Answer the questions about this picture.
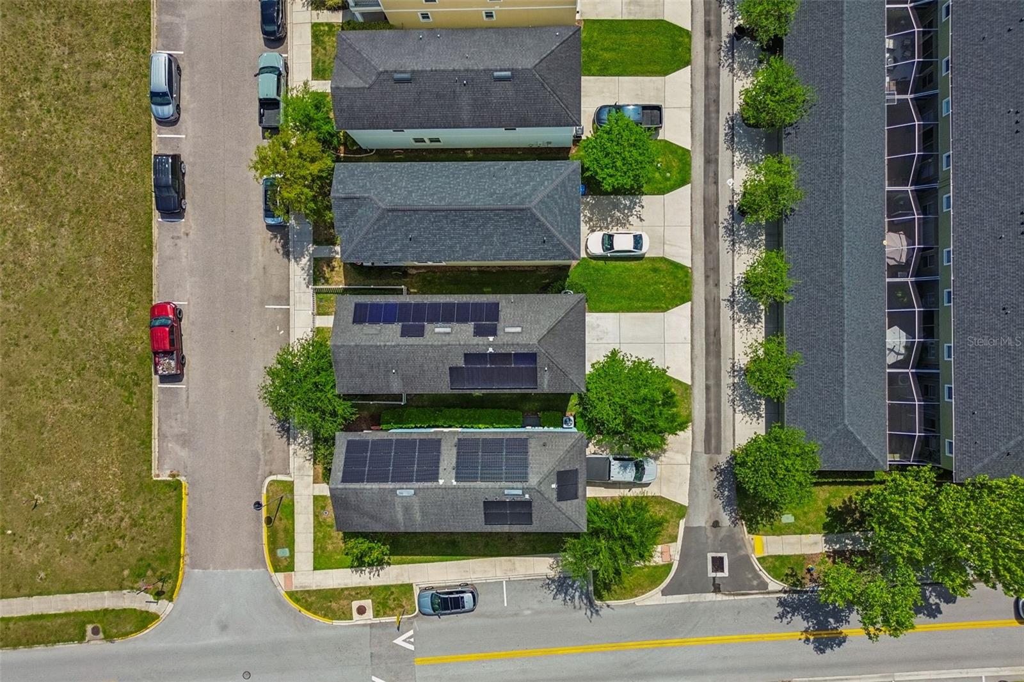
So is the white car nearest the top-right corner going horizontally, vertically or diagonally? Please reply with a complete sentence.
I'd say the white car nearest the top-right corner is aligned horizontally in the picture.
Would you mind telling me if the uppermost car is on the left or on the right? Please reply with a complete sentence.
The uppermost car sits on the left side.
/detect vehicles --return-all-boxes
[586,453,658,485]
[153,157,188,214]
[585,229,648,258]
[260,176,290,229]
[418,585,479,620]
[149,303,186,377]
[593,101,663,134]
[148,56,183,124]
[261,0,288,41]
[255,54,290,130]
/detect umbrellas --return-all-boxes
[888,230,916,266]
[888,326,913,365]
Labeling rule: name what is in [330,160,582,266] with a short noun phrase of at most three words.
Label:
house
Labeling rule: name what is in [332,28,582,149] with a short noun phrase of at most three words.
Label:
house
